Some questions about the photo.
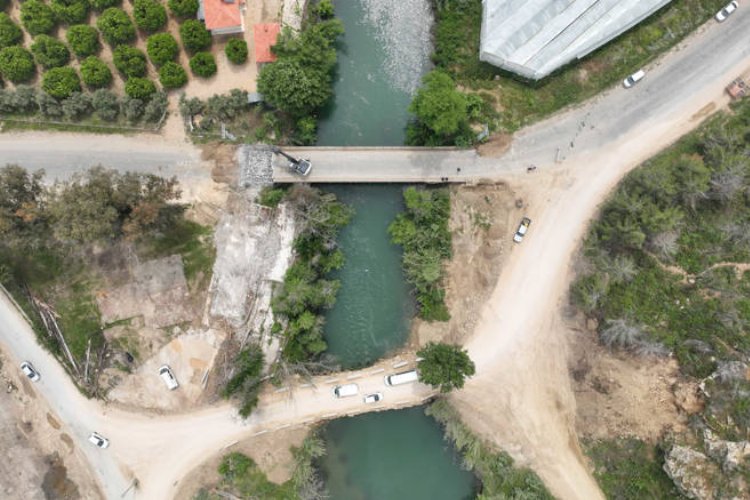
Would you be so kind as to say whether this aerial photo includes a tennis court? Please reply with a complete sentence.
No, no tennis court is visible in the view.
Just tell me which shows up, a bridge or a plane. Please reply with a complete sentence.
The image shows a bridge.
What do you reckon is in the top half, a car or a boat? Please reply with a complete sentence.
There is a car in the top half.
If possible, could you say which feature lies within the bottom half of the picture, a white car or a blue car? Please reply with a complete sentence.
Looking within the bottom half of the picture, you will find a white car.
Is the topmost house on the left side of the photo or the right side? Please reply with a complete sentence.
The topmost house sits on the left side.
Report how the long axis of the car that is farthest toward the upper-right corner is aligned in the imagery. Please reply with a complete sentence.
The car that is farthest toward the upper-right corner has been laid out on a diagonal relative to the frame.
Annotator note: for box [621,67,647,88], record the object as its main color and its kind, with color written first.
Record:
white vehicle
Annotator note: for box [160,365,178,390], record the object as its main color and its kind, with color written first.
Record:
white vehicle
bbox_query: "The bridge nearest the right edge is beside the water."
[272,147,478,184]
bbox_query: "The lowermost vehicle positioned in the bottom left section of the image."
[89,433,111,447]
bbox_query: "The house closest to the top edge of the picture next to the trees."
[196,0,248,38]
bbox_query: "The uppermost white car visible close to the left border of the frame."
[20,361,41,382]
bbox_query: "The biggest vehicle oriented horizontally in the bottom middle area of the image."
[385,370,420,387]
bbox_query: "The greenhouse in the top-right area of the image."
[480,0,678,81]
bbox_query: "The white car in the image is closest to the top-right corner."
[715,1,738,21]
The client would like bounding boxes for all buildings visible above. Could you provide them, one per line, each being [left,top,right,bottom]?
[245,92,261,105]
[196,0,248,38]
[480,0,678,81]
[254,23,281,64]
